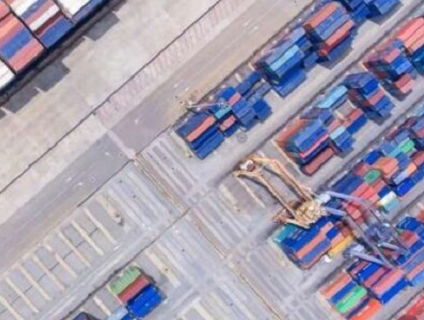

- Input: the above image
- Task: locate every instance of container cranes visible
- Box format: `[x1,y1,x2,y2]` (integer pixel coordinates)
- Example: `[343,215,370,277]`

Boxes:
[316,189,415,271]
[232,154,326,235]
